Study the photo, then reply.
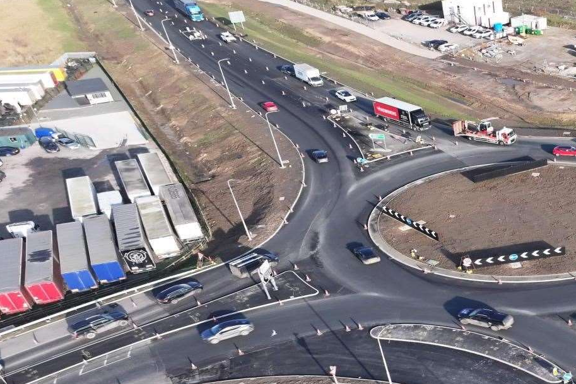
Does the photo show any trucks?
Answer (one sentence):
Yes, the picture does show a truck.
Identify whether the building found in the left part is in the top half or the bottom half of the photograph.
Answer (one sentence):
Seen from above, the building found in the left part lies in the top half of the view.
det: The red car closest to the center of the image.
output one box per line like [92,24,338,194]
[259,97,277,110]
